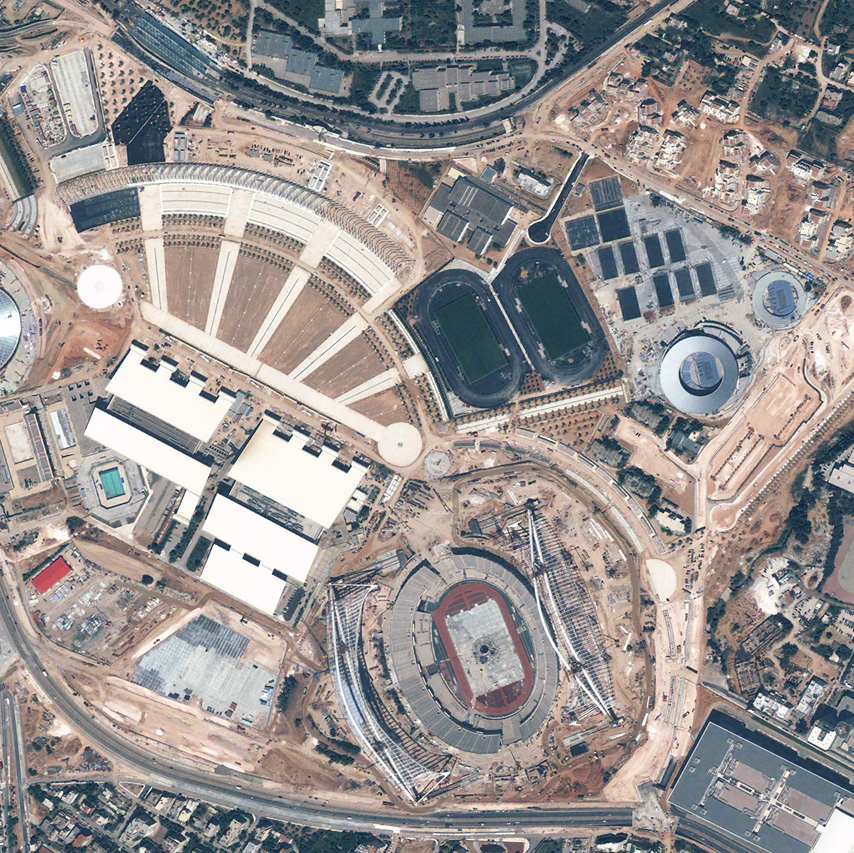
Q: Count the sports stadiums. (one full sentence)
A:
The count of sports stadiums comes to 3.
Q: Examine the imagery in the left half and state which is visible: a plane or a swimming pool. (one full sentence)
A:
Looking in the left half, you will find a swimming pool.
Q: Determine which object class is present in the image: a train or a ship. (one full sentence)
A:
This aerial view contains a train.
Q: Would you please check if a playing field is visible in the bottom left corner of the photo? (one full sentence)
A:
No, there's no playing field to be seen in the bottom left corner of the photo.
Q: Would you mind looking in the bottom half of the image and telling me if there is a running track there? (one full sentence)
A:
Yes, I can see a running track in the bottom half of the image.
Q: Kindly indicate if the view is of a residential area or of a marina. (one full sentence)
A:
This image shows a residential area.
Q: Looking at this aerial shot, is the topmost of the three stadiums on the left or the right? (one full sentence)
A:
The topmost of the three stadiums is on the right side of the image.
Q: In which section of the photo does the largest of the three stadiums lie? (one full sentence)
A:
The largest of the three stadiums appears toward the bottom of the photo.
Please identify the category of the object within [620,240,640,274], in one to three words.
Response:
tennis court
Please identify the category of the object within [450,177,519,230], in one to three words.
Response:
building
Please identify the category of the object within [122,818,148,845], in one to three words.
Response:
house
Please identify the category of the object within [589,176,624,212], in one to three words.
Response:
tennis court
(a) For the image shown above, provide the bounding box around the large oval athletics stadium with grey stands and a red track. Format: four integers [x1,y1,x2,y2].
[386,553,558,759]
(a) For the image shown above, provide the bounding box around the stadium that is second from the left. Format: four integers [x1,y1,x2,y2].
[660,323,754,414]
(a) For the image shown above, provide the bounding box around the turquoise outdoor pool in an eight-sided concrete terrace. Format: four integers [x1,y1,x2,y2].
[78,451,150,527]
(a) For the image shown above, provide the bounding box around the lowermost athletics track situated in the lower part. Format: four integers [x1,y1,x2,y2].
[431,582,533,714]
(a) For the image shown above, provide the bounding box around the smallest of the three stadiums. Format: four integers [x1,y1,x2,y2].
[753,272,806,326]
